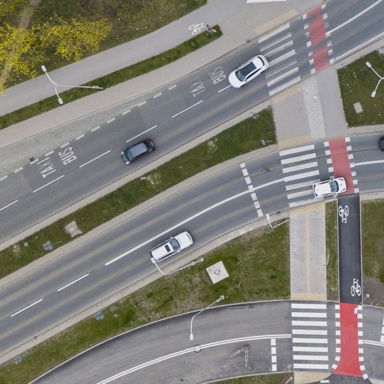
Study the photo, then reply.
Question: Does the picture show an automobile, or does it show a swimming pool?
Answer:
automobile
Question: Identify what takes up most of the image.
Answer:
paved ground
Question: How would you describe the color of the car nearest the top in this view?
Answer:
white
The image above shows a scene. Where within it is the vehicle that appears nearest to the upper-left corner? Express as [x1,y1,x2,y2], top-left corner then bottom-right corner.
[120,138,158,164]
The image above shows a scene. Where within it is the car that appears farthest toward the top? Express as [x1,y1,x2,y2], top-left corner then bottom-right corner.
[229,56,269,88]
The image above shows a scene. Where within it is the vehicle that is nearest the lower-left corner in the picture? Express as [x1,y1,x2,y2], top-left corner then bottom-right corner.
[150,230,195,263]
